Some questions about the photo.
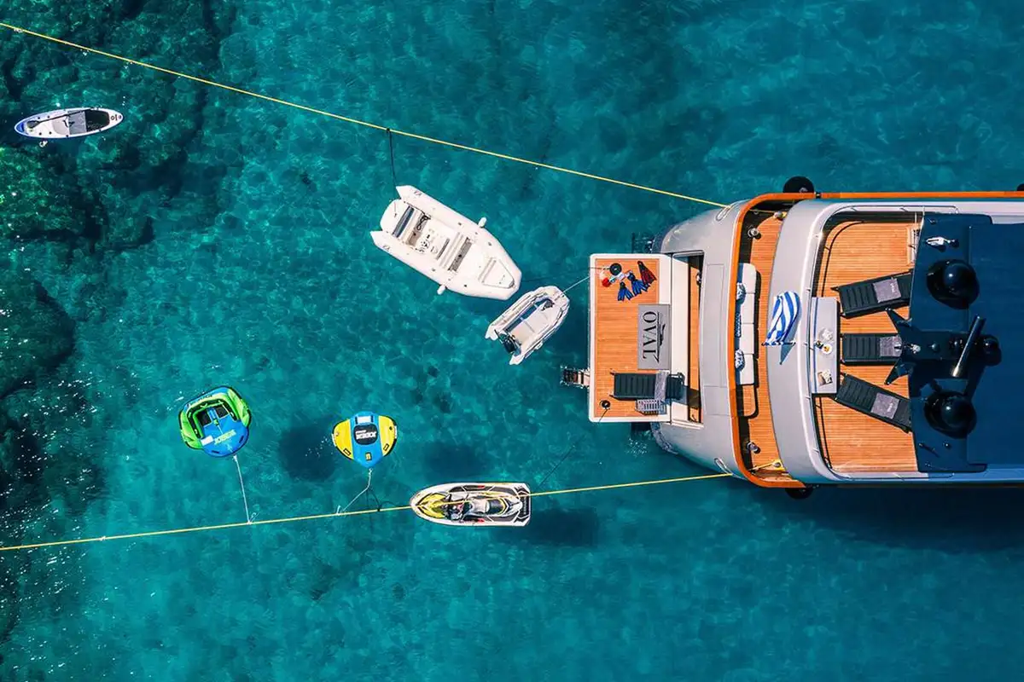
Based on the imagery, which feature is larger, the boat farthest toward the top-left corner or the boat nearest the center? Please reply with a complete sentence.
It is the boat farthest toward the top-left corner that is larger, not the boat nearest the center.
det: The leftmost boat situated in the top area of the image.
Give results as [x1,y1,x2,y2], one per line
[371,187,521,300]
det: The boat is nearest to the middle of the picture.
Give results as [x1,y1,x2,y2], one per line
[486,288,569,366]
